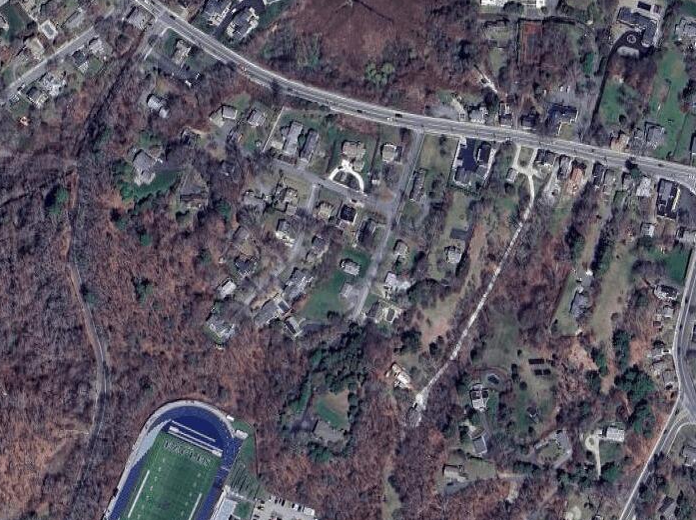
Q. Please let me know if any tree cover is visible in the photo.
Yes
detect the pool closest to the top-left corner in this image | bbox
[39,20,58,38]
